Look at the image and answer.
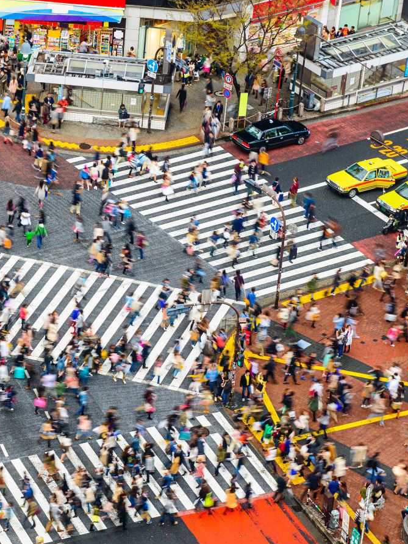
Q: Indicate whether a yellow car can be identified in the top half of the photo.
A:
Yes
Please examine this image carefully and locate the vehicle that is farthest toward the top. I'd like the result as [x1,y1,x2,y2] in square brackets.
[237,110,317,150]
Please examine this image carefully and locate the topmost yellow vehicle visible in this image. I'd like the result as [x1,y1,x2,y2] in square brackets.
[331,150,408,194]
